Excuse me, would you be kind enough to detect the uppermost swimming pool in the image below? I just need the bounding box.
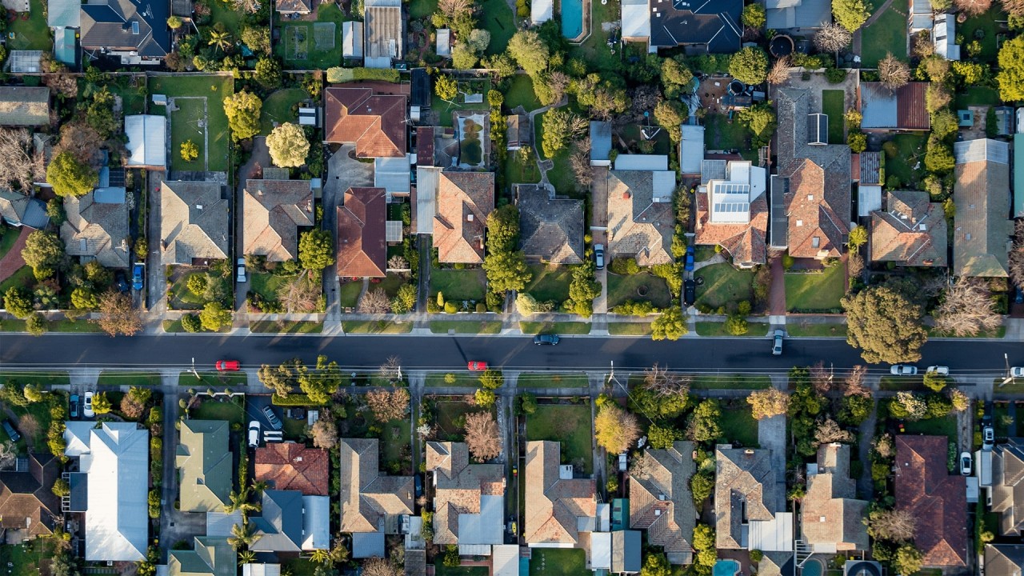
[558,0,592,42]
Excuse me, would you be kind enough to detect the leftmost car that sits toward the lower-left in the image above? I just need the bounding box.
[1,417,22,443]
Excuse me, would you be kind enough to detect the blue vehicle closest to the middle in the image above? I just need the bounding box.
[533,334,559,346]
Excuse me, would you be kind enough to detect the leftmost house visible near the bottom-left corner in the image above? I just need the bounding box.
[0,453,63,545]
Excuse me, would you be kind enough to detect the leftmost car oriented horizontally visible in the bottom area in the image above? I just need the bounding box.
[216,359,241,371]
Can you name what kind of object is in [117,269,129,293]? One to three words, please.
vehicle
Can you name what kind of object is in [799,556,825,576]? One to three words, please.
swimming pool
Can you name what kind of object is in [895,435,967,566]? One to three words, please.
house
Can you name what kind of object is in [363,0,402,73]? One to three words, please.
shed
